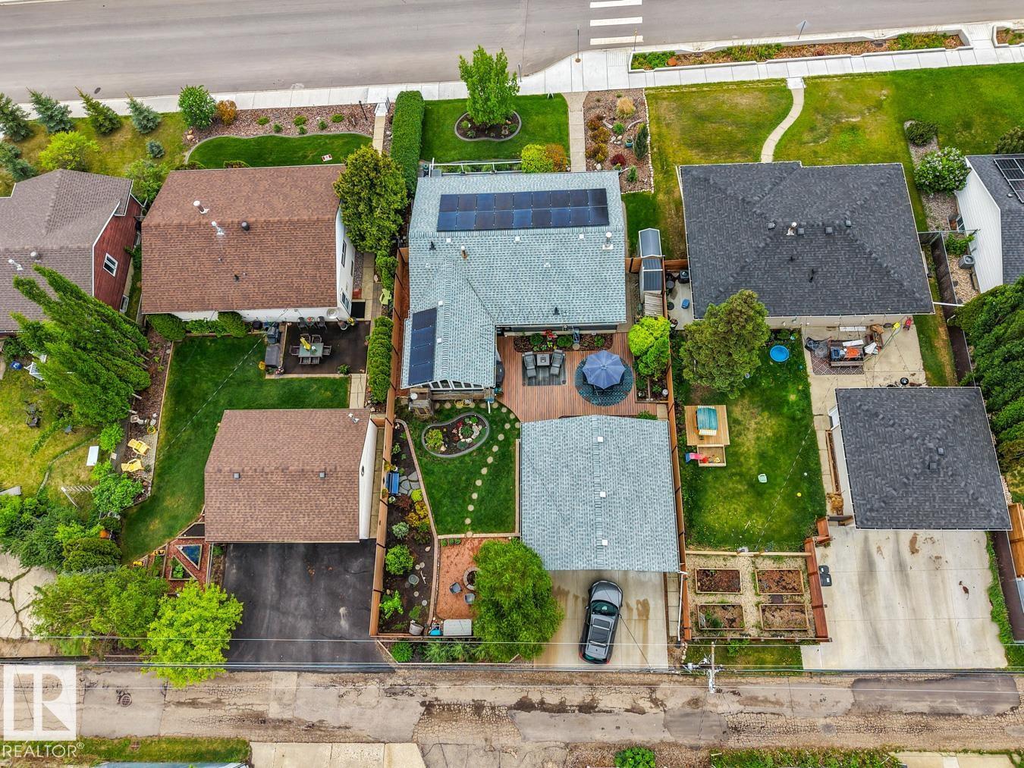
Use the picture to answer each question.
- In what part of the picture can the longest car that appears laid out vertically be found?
bottom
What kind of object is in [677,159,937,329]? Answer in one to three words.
house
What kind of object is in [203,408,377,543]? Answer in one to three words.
building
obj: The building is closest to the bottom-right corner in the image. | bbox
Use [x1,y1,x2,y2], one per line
[822,386,1015,532]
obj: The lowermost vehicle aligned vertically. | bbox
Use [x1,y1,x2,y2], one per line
[575,577,622,672]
